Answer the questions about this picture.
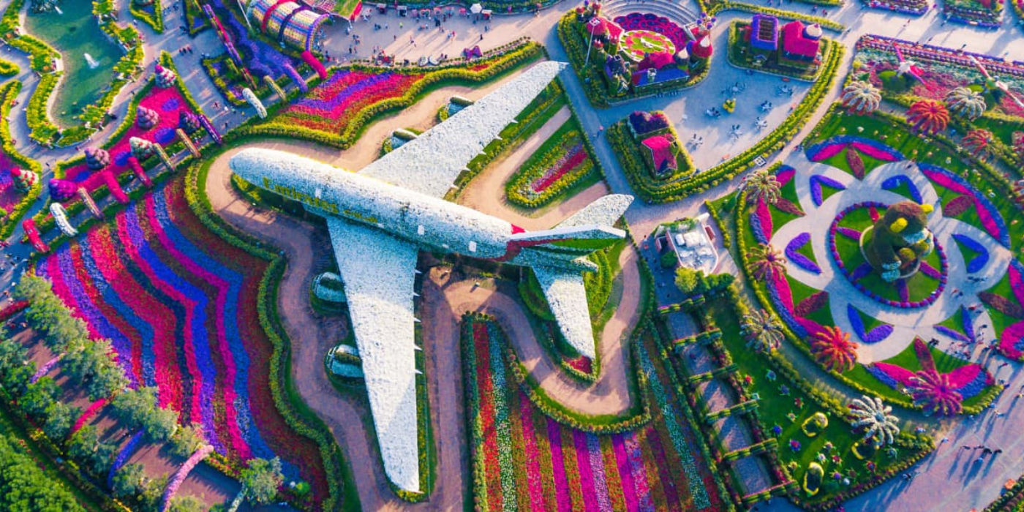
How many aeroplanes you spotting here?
one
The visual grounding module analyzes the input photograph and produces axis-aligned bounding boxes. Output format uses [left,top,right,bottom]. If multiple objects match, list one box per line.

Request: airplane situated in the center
[231,60,634,494]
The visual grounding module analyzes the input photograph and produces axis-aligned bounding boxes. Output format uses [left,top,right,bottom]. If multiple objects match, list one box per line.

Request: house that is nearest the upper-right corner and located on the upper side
[775,20,827,75]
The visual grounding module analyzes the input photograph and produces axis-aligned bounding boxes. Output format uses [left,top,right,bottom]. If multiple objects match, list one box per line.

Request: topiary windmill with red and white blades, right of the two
[952,54,1024,108]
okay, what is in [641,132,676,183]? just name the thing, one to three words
house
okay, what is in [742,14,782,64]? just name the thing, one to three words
house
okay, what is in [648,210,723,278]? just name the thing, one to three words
building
